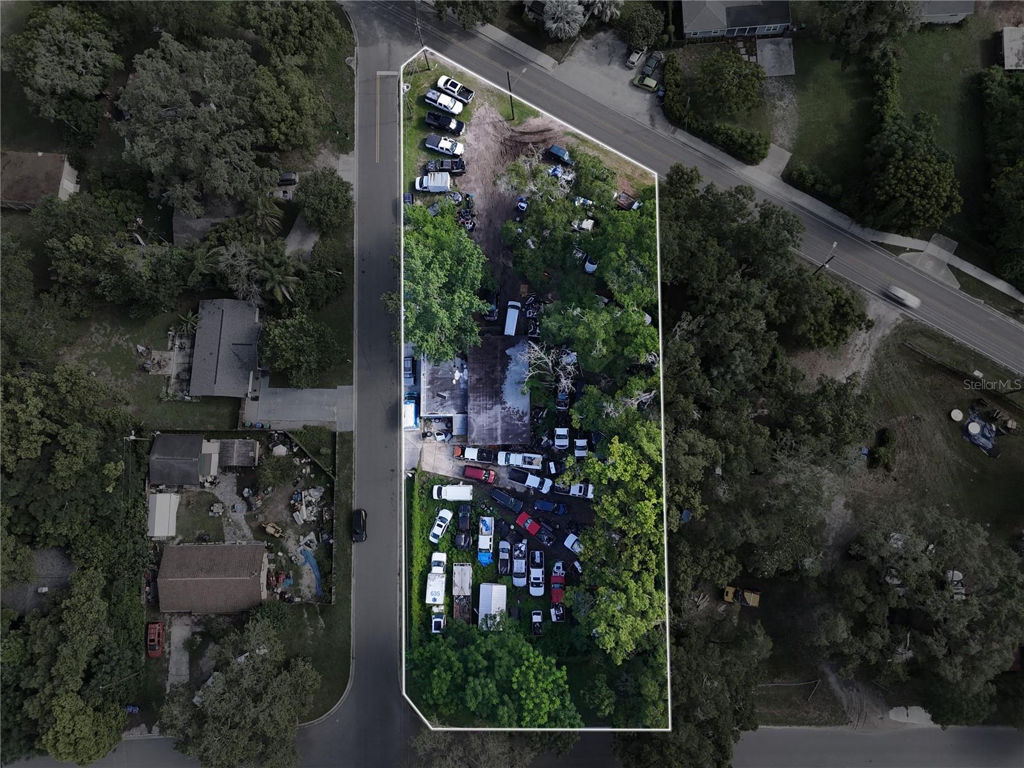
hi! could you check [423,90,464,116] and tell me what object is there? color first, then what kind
white truck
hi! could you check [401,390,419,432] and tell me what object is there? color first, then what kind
white vehicle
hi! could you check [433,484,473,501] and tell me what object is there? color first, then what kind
white vehicle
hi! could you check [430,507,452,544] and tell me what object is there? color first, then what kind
white car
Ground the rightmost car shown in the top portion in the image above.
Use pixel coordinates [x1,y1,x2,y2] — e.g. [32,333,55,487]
[883,284,919,309]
